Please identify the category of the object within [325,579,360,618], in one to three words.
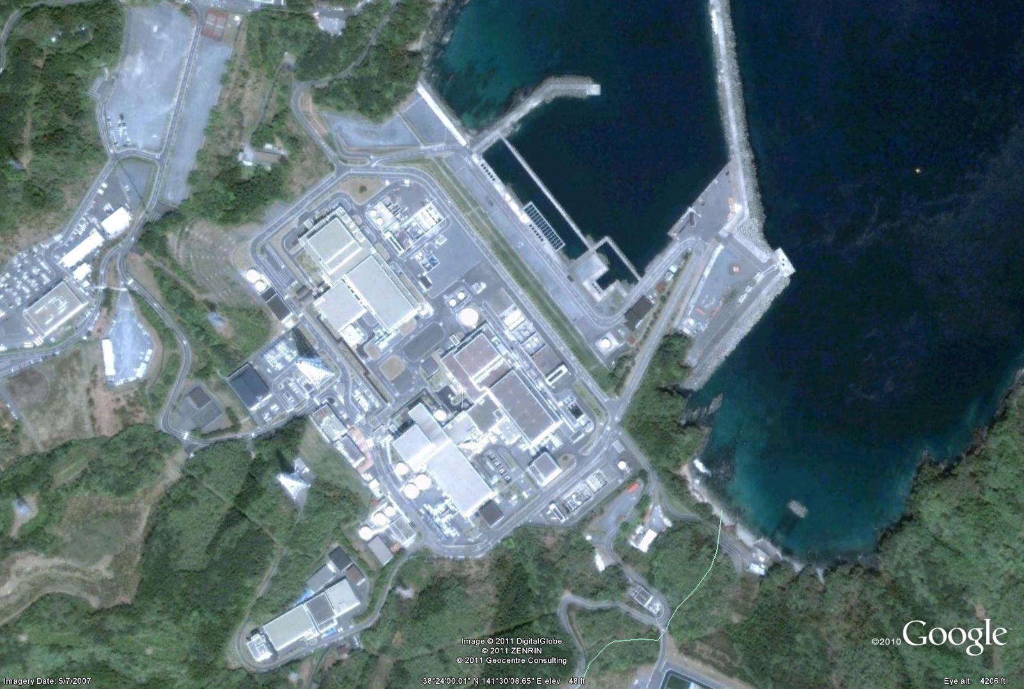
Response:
building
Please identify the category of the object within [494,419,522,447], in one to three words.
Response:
building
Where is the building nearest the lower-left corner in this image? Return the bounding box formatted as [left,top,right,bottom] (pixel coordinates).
[247,634,272,661]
